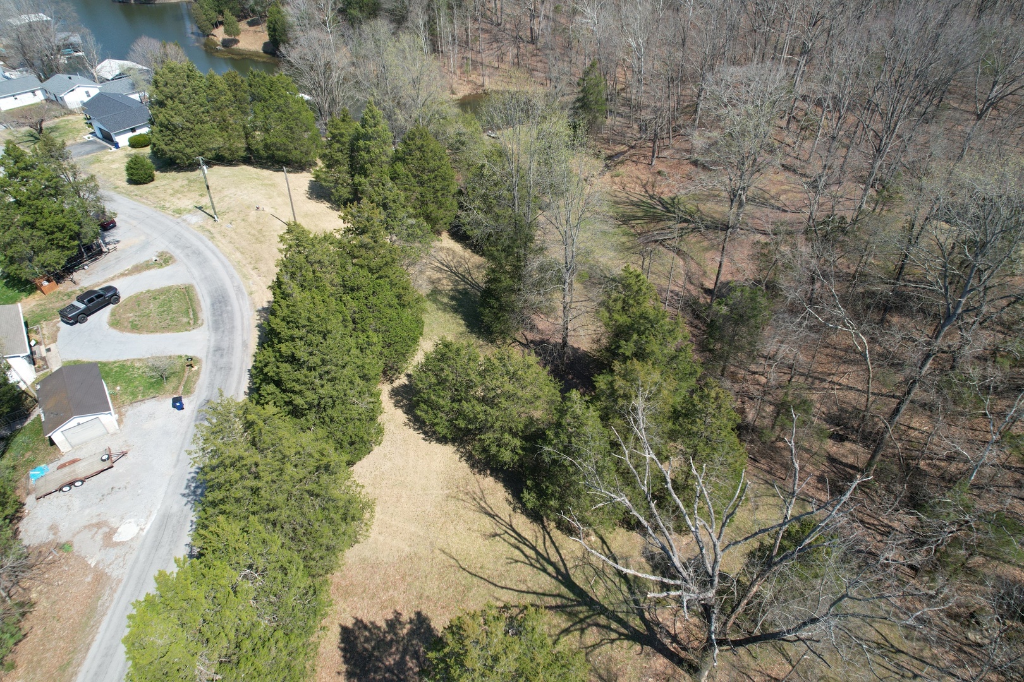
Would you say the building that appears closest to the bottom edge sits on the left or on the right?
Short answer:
left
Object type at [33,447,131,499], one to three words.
trailer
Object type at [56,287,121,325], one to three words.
truck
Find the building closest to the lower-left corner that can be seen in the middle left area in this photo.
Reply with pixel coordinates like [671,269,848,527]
[32,362,121,452]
